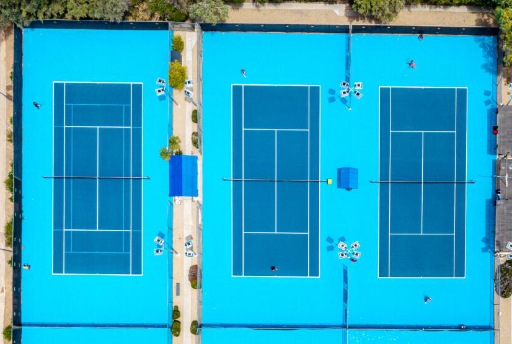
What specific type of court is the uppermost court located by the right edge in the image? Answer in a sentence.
It looks like the uppermost court located by the right edge is a tennis court.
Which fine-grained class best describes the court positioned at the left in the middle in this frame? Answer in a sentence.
The court positioned at the left in the middle can be classified as a tennis court.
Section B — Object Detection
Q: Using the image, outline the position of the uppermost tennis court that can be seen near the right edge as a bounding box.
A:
[347,34,497,329]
